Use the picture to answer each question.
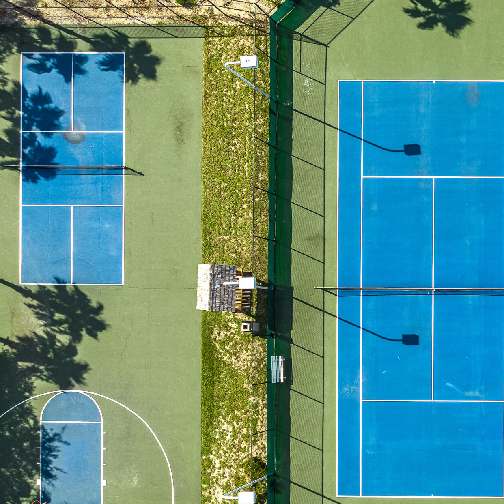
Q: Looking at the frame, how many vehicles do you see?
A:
0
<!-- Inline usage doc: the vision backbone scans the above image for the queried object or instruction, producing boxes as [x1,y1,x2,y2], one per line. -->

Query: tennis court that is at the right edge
[336,81,504,498]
